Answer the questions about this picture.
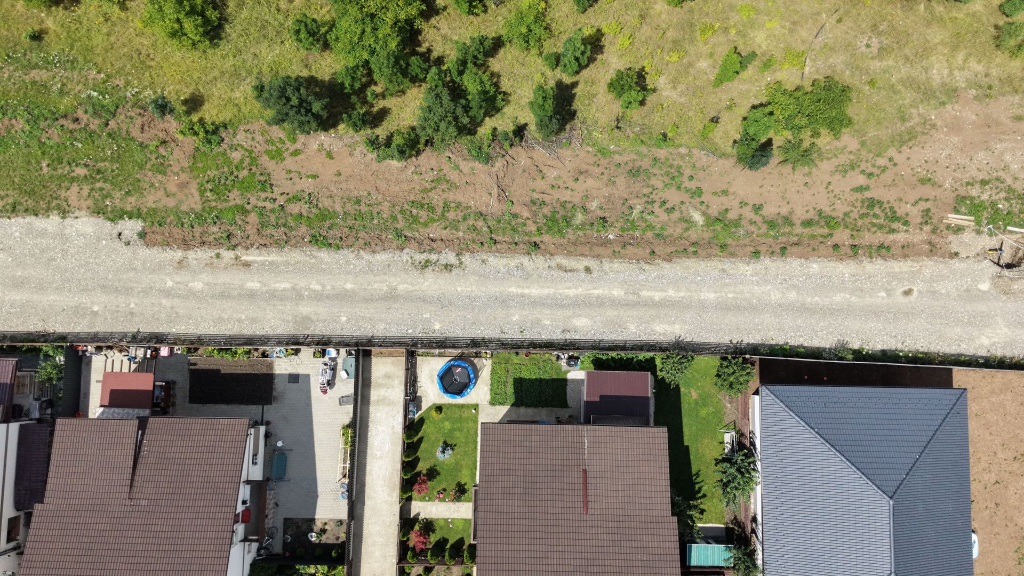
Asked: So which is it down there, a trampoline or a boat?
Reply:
trampoline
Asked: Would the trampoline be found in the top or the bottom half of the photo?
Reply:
bottom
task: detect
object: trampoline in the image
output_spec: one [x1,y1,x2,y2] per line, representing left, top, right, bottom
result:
[437,359,477,400]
